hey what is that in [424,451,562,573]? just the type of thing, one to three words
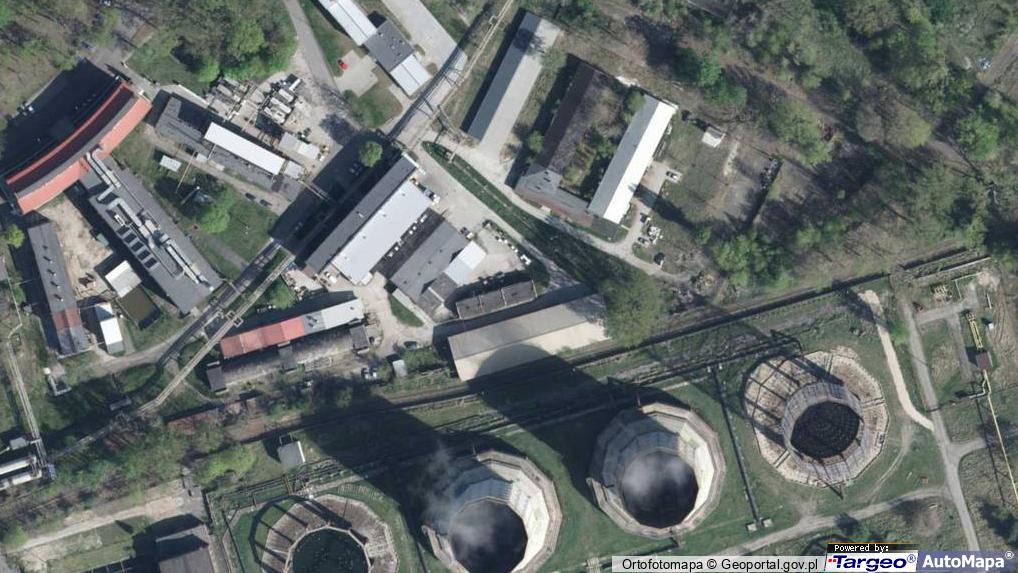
cooling tower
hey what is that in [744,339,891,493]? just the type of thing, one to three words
cooling tower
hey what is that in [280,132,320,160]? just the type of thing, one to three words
shed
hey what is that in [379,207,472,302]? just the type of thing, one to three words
building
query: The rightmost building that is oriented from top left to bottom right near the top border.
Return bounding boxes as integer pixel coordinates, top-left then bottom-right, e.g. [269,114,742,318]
[331,0,432,96]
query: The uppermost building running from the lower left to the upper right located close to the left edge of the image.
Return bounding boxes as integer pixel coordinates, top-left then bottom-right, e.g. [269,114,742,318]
[8,75,154,215]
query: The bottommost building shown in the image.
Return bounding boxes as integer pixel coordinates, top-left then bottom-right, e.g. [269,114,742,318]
[156,522,218,573]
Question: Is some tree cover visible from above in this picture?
Yes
